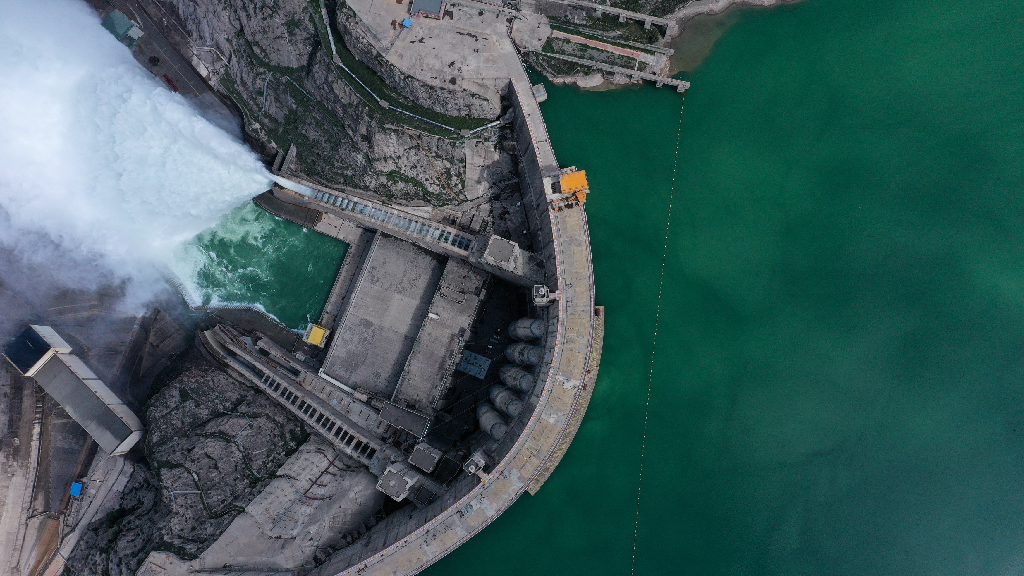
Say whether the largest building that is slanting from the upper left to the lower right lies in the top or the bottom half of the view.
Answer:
bottom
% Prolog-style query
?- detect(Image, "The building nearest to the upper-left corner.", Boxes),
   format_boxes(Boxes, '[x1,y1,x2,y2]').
[105,9,145,47]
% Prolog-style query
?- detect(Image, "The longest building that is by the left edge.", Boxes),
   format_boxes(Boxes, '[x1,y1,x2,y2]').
[2,325,144,454]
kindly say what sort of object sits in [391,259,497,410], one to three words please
building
